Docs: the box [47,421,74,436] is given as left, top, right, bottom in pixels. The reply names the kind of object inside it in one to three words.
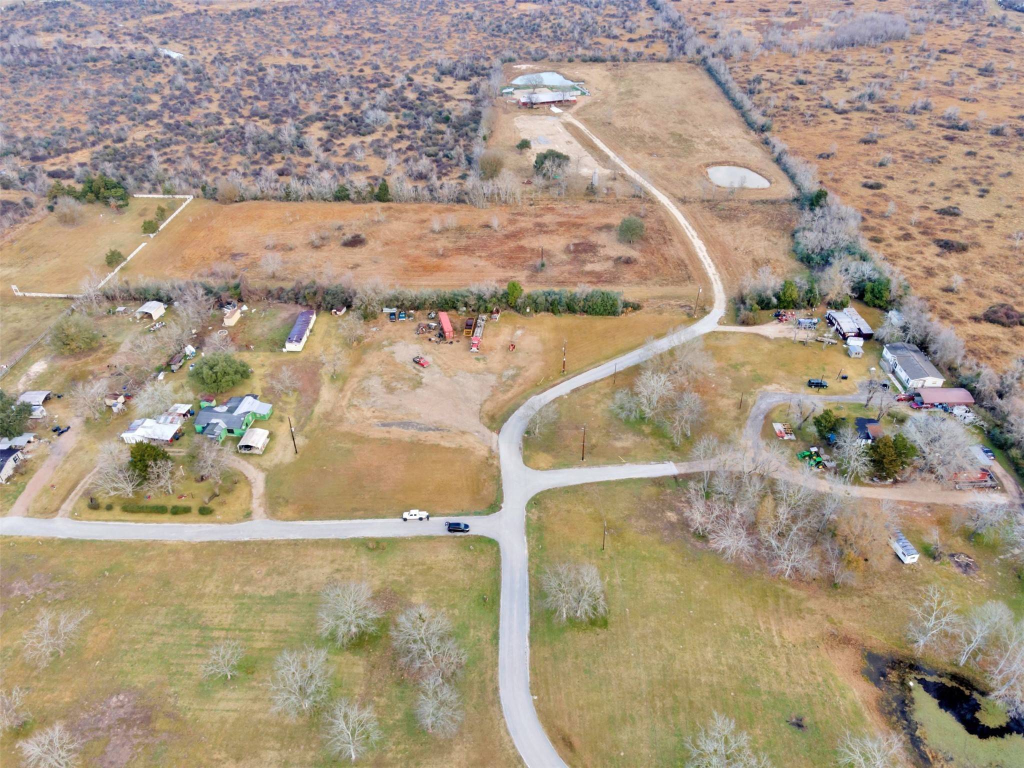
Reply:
vehicle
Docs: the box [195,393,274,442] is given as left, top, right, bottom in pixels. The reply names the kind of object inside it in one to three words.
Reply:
house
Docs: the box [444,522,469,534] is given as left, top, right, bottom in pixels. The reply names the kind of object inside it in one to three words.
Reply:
vehicle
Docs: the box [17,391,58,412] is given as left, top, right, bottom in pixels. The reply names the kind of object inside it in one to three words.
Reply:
barn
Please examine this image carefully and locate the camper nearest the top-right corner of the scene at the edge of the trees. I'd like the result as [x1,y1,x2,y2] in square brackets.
[886,312,902,332]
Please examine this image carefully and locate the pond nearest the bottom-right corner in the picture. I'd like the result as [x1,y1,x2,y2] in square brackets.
[915,677,1024,742]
